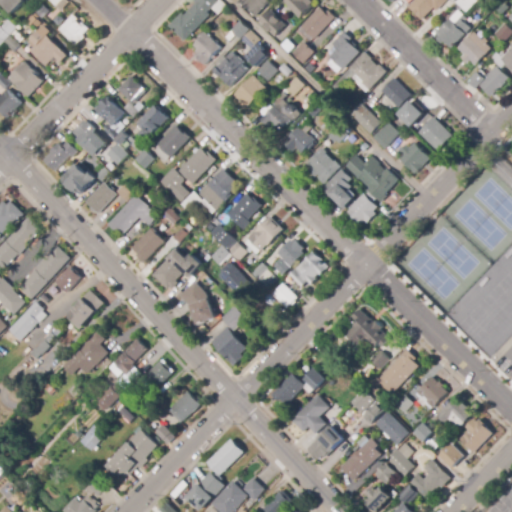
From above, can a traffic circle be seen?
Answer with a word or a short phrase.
No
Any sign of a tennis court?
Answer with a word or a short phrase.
Yes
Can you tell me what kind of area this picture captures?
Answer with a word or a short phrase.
residential area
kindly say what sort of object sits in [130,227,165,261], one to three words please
house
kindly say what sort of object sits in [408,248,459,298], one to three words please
tennis court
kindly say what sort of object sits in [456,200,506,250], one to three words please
tennis court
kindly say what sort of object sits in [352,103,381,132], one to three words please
building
